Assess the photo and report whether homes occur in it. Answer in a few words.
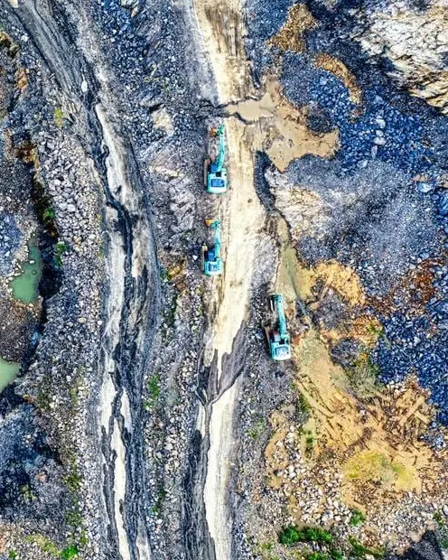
No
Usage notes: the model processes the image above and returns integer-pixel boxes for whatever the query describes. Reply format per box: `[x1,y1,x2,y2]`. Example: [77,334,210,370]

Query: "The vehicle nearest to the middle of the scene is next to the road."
[198,220,227,278]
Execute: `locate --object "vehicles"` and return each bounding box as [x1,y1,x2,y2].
[265,299,295,365]
[202,121,232,195]
[198,220,227,278]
